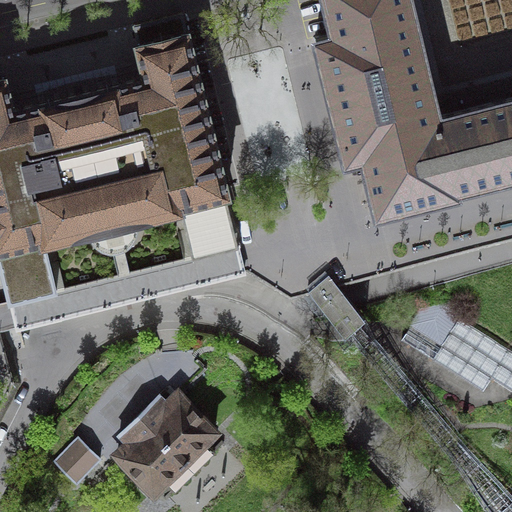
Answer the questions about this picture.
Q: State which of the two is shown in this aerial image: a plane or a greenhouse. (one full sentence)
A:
Looking from above, you can make out a greenhouse.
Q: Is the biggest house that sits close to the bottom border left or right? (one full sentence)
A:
The biggest house that sits close to the bottom border appears in the left half of the scene.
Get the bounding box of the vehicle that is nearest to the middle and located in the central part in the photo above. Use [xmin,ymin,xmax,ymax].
[240,220,252,244]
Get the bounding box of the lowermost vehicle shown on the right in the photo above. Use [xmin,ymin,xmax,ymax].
[330,256,346,278]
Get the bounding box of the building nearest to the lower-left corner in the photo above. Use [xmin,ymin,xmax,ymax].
[54,436,102,485]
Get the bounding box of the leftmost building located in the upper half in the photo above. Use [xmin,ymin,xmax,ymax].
[0,14,241,307]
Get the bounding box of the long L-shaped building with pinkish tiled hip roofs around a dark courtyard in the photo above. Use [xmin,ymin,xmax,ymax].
[312,0,512,226]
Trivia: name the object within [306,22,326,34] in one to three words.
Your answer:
vehicle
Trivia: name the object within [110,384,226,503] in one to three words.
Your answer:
house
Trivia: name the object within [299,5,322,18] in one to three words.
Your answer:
vehicle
